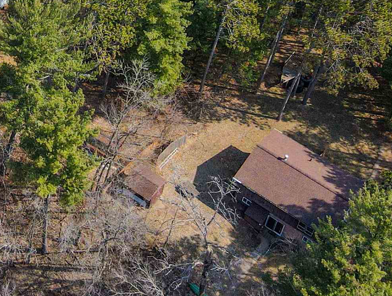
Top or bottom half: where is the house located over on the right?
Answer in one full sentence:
The house located over on the right sits in the bottom half of the picture.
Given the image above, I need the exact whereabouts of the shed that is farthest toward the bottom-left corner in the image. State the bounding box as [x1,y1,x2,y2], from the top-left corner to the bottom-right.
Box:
[118,160,167,211]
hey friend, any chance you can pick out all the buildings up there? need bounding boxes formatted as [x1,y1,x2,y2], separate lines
[118,160,167,211]
[226,128,379,265]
